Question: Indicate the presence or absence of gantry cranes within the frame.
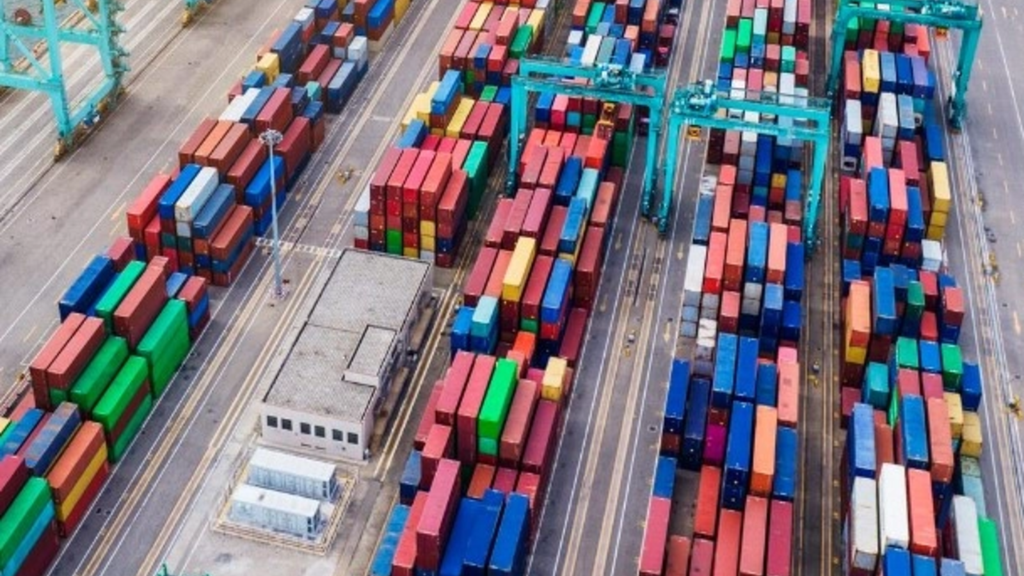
Yes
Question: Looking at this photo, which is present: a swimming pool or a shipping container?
shipping container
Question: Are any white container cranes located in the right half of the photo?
No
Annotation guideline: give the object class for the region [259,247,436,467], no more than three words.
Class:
shed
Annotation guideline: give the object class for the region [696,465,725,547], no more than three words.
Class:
shipping container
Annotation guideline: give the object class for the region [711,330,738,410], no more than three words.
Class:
shipping container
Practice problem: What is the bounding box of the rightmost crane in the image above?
[832,0,983,127]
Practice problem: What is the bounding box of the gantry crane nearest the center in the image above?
[510,50,665,216]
